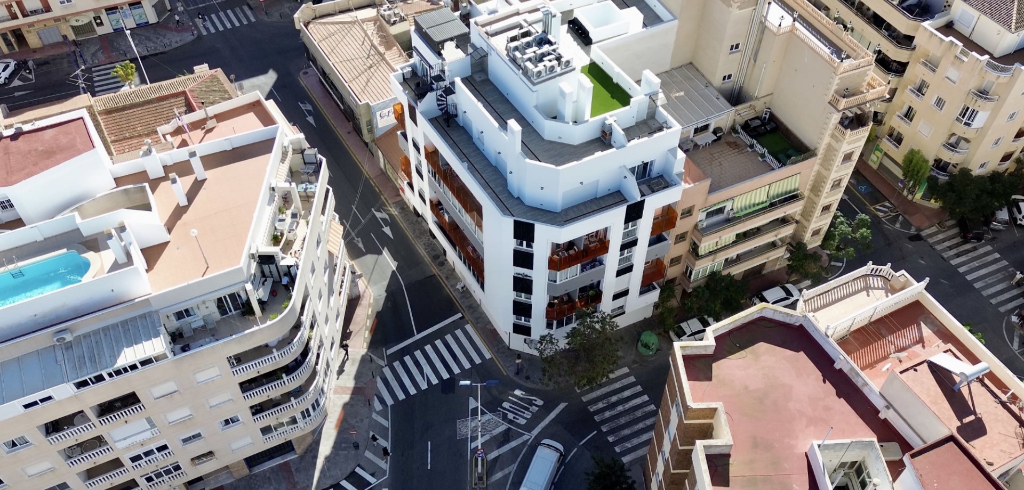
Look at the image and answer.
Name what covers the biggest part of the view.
buildings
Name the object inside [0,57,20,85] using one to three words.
car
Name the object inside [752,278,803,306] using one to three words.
car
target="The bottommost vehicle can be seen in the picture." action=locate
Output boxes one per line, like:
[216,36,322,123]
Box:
[511,435,565,490]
